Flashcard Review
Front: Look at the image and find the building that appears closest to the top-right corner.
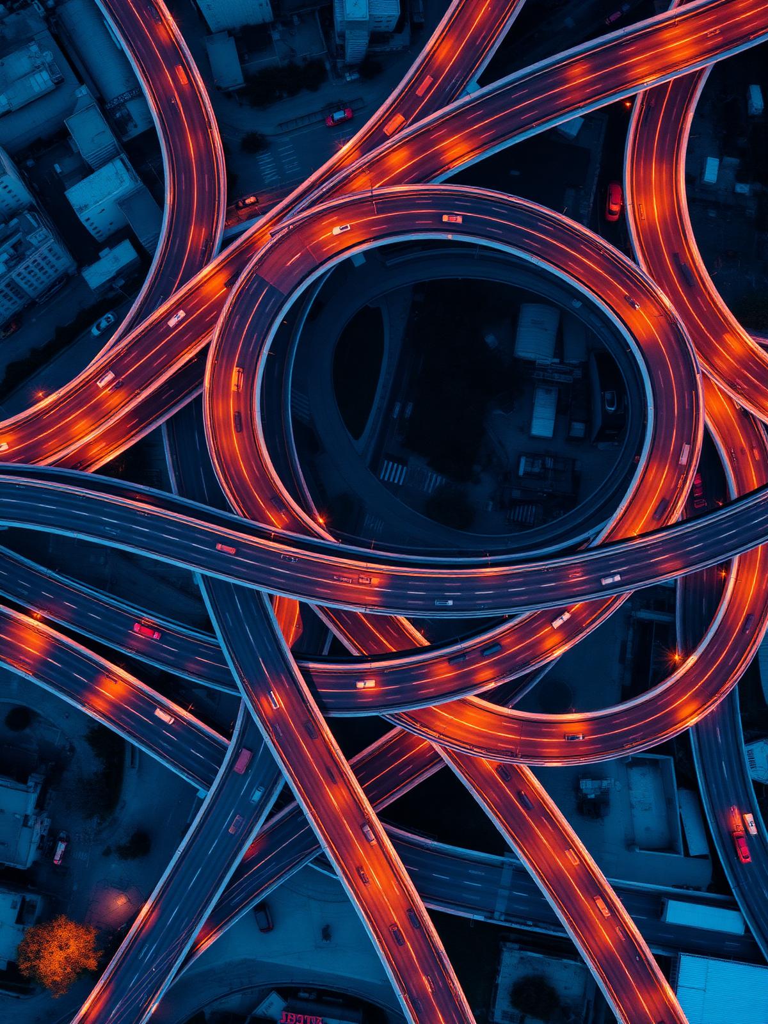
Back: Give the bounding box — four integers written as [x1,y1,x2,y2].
[552,118,583,145]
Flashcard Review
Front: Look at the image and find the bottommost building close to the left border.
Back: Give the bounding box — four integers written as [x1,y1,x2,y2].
[0,876,53,969]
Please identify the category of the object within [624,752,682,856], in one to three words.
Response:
building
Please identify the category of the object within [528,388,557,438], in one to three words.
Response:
building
